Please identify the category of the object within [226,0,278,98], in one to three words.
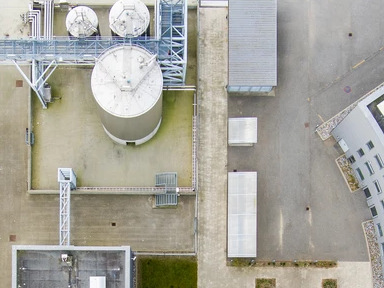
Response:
shed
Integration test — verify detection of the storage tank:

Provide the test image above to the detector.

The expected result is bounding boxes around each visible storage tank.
[91,42,164,147]
[66,6,104,44]
[109,0,151,44]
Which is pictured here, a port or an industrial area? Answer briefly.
industrial area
